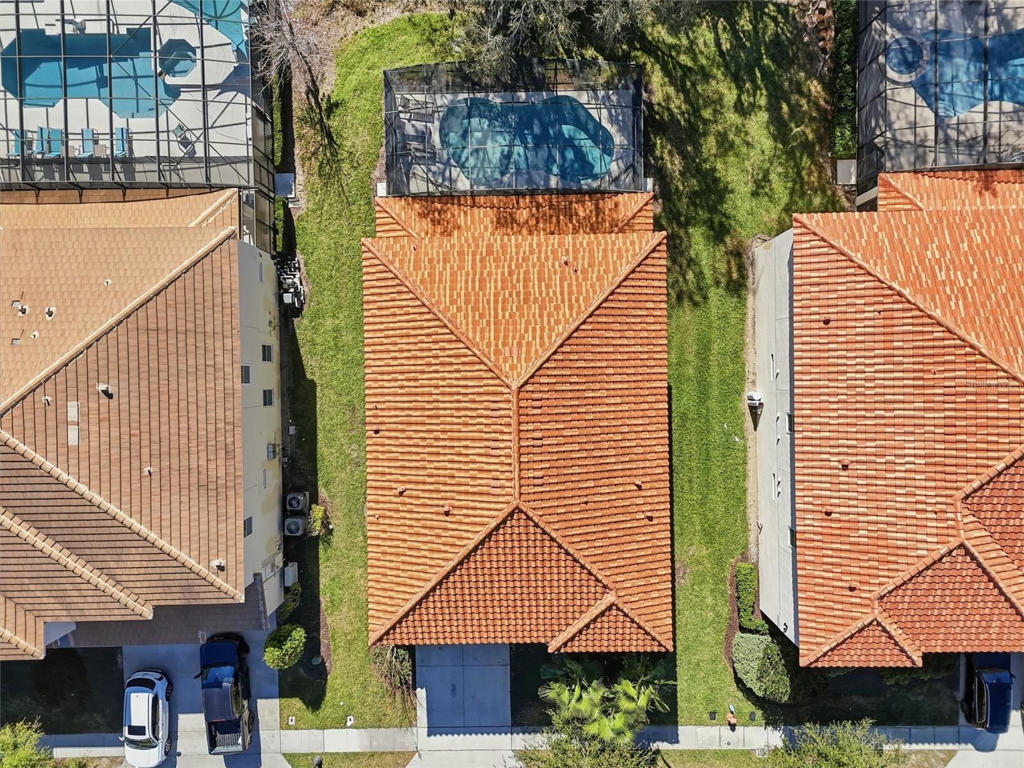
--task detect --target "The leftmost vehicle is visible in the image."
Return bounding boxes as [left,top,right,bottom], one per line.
[119,668,171,764]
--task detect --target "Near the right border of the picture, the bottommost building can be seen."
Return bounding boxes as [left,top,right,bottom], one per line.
[754,167,1024,670]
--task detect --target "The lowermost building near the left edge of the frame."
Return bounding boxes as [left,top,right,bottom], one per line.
[0,187,284,664]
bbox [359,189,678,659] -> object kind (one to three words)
house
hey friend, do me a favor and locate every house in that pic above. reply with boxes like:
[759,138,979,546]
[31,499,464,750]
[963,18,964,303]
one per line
[754,167,1024,670]
[0,187,284,664]
[359,189,678,659]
